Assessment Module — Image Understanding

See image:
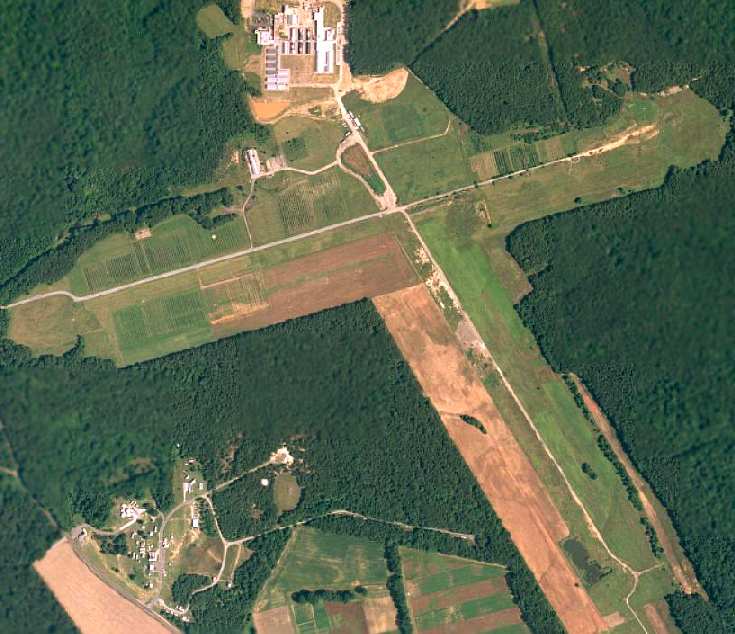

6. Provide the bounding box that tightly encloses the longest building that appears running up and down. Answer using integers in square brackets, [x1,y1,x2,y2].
[317,19,334,72]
